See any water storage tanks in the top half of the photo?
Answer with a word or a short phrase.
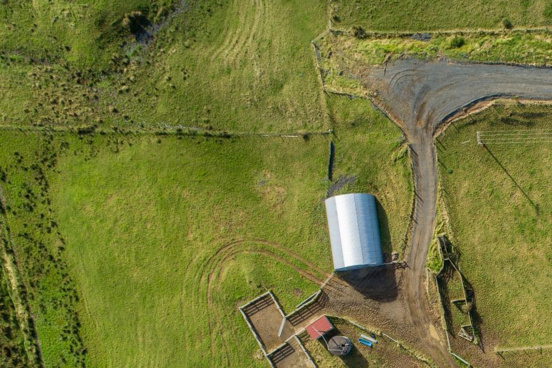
No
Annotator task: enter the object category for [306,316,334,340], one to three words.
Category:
shed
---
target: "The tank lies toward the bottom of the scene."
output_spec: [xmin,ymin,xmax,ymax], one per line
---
[322,333,355,358]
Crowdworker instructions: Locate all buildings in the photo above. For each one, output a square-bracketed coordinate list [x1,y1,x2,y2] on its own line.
[326,192,383,271]
[306,316,334,340]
